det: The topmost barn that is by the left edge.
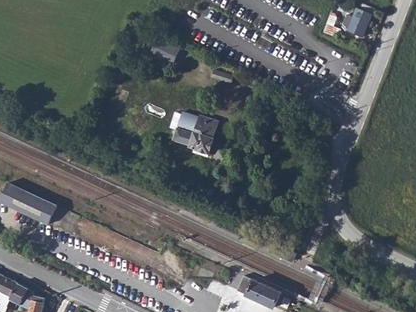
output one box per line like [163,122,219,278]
[0,183,56,225]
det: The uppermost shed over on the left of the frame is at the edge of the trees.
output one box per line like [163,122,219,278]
[152,38,180,60]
